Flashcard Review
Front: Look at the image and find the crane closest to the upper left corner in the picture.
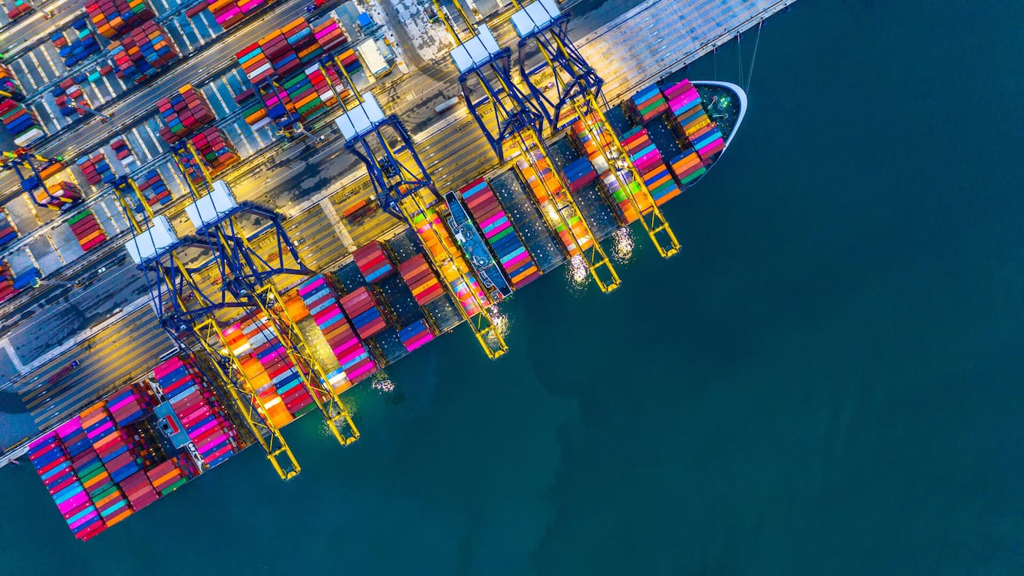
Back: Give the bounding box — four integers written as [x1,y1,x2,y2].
[9,151,87,213]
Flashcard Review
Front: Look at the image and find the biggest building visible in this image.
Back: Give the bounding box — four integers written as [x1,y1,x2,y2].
[359,40,389,77]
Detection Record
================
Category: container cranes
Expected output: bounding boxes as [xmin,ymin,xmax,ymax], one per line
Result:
[313,49,507,359]
[102,172,299,482]
[9,151,87,213]
[165,135,361,445]
[429,0,621,292]
[251,71,318,142]
[513,0,682,256]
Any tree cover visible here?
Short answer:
No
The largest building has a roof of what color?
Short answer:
white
